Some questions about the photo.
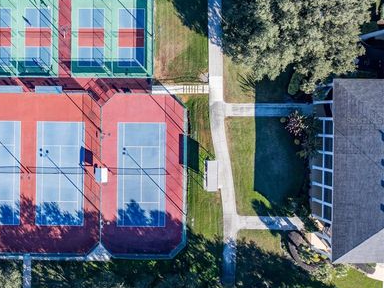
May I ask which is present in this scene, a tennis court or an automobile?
tennis court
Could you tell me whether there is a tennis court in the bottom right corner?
No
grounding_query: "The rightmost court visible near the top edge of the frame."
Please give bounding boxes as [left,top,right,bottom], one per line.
[111,0,151,76]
